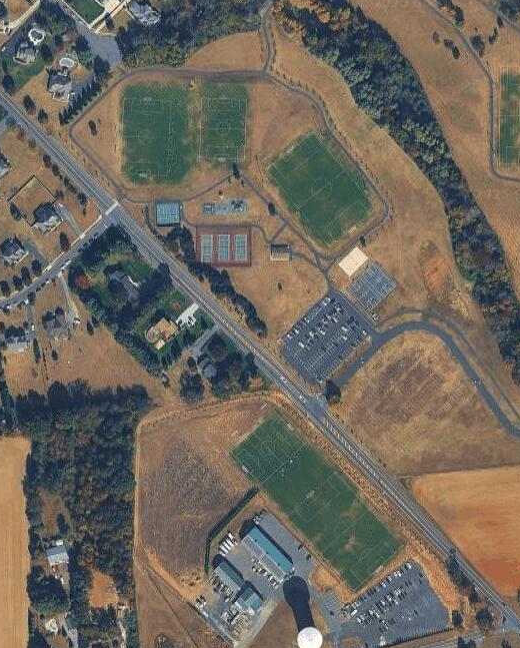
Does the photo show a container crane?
No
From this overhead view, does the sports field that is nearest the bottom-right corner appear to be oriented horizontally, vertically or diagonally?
diagonally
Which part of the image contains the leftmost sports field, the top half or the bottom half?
top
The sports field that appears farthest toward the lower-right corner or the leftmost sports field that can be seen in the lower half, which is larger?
the sports field that appears farthest toward the lower-right corner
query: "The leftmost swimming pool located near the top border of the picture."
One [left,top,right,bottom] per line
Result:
[28,27,44,42]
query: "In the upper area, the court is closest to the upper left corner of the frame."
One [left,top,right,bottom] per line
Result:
[155,201,180,226]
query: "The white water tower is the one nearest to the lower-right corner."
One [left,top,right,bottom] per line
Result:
[297,628,324,648]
